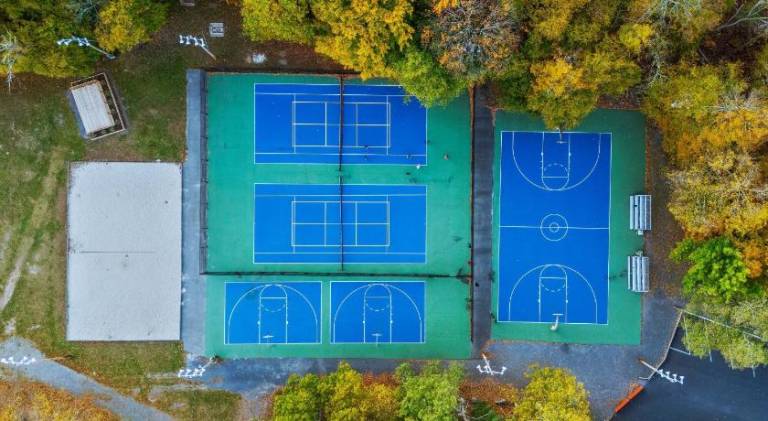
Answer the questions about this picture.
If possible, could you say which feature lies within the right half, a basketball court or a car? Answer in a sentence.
What appears within the right half is a basketball court.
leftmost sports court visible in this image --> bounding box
[66,162,182,341]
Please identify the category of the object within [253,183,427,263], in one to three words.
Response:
tennis court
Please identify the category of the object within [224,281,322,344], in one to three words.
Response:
basketball court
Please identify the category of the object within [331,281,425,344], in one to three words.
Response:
basketball court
